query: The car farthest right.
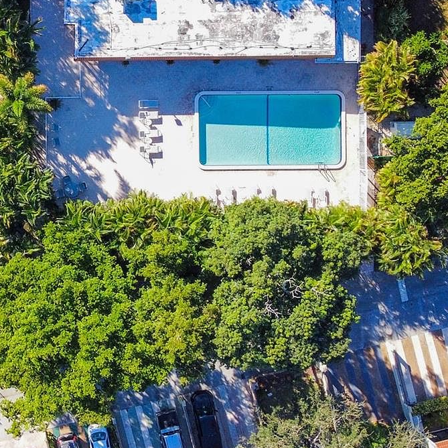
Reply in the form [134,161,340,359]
[190,389,221,448]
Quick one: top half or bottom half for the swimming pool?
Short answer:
top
